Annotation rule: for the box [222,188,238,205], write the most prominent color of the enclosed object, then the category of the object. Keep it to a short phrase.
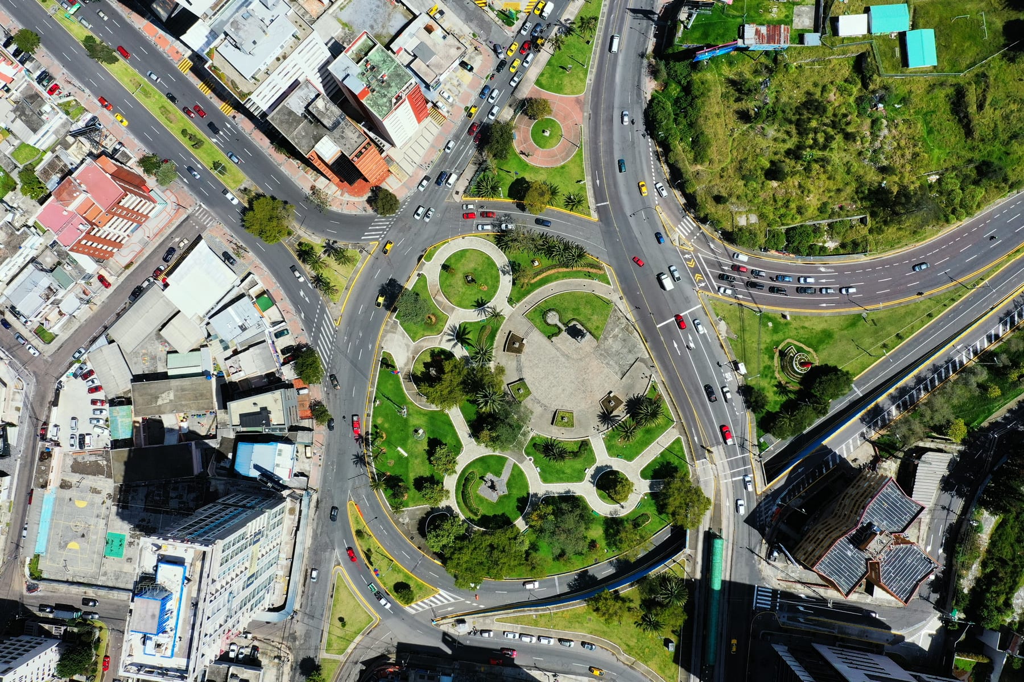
white vehicle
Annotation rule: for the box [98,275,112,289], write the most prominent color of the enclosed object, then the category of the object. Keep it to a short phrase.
red car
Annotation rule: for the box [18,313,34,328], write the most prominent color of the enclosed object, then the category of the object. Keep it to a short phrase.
white car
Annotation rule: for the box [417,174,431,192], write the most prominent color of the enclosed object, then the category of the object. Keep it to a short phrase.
white vehicle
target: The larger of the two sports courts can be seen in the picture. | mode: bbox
[39,451,112,579]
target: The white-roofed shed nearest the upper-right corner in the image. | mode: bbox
[835,13,868,39]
